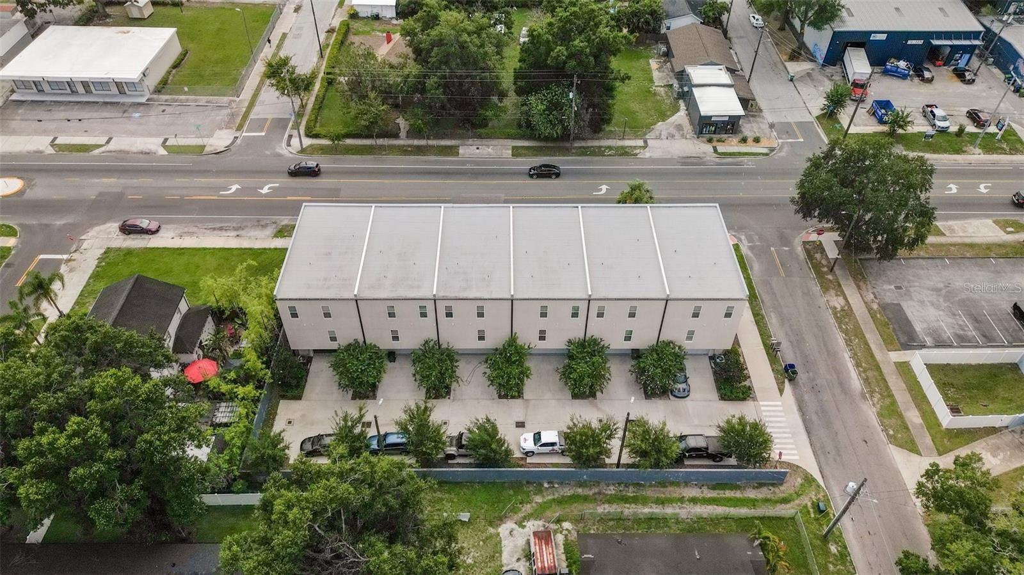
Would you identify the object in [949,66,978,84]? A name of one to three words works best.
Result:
car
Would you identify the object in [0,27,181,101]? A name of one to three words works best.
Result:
building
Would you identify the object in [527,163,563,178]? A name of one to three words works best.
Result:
car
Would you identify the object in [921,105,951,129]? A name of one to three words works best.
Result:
truck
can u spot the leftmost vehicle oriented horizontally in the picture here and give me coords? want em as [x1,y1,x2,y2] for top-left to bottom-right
[117,217,162,234]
